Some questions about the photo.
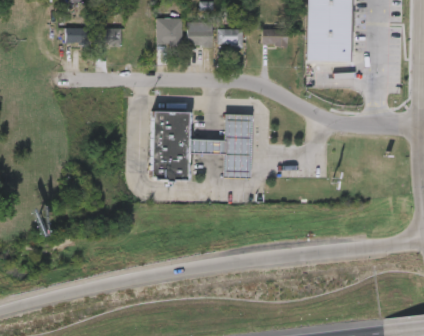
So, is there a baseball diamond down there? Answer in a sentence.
No, there appears to be no baseball diamond in this shot.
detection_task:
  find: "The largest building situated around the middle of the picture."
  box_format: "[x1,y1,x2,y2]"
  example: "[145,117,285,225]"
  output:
[150,112,192,184]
